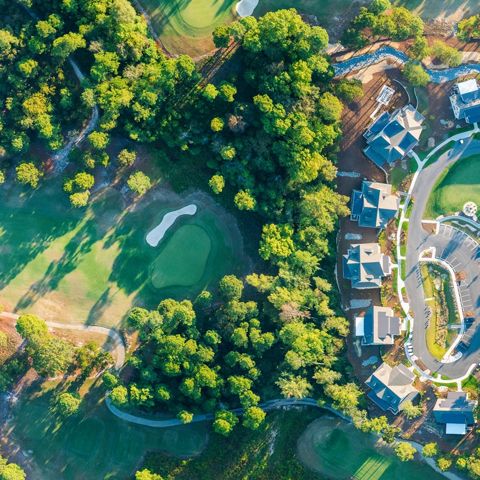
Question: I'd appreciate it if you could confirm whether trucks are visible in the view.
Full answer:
No, the picture doesn't show any truck.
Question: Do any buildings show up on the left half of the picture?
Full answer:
No, the scene shows no building on the left half of the picture.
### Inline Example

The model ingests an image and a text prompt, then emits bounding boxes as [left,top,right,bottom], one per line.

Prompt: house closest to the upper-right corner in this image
[451,79,480,122]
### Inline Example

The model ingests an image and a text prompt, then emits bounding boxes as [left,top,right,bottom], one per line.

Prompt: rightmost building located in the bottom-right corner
[436,389,477,433]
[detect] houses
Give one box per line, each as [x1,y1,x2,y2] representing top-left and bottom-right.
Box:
[436,389,477,433]
[341,243,391,289]
[357,306,400,346]
[362,106,427,166]
[350,182,400,229]
[366,361,421,413]
[451,79,480,122]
